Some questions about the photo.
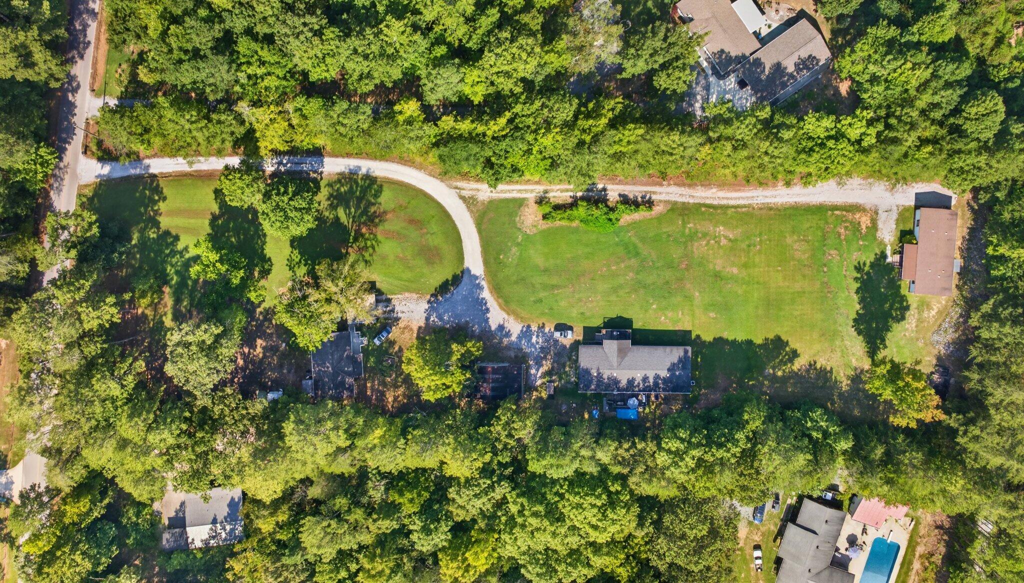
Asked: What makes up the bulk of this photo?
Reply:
trees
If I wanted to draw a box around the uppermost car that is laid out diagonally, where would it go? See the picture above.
[373,326,393,346]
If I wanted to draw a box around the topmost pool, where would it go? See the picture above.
[616,408,639,420]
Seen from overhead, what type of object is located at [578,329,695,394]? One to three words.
house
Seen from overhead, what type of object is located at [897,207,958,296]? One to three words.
house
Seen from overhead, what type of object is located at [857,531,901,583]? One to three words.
swimming pool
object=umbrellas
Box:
[628,398,638,409]
[848,546,860,558]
